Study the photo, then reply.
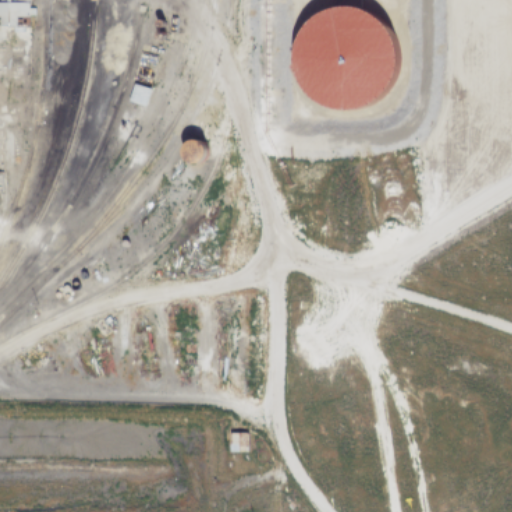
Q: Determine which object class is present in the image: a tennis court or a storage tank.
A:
storage tank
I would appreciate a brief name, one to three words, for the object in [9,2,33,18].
building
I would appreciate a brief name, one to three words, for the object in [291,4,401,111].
storage tank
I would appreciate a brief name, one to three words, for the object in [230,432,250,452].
shed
